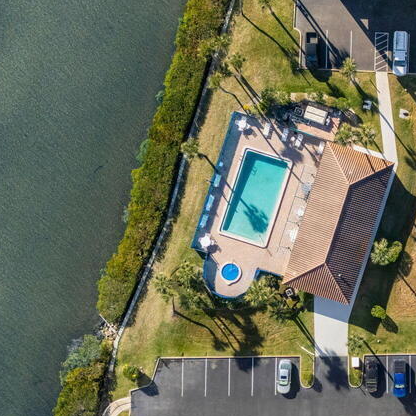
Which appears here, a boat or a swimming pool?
swimming pool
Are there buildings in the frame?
Yes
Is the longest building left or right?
right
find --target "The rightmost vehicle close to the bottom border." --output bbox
[392,357,408,398]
